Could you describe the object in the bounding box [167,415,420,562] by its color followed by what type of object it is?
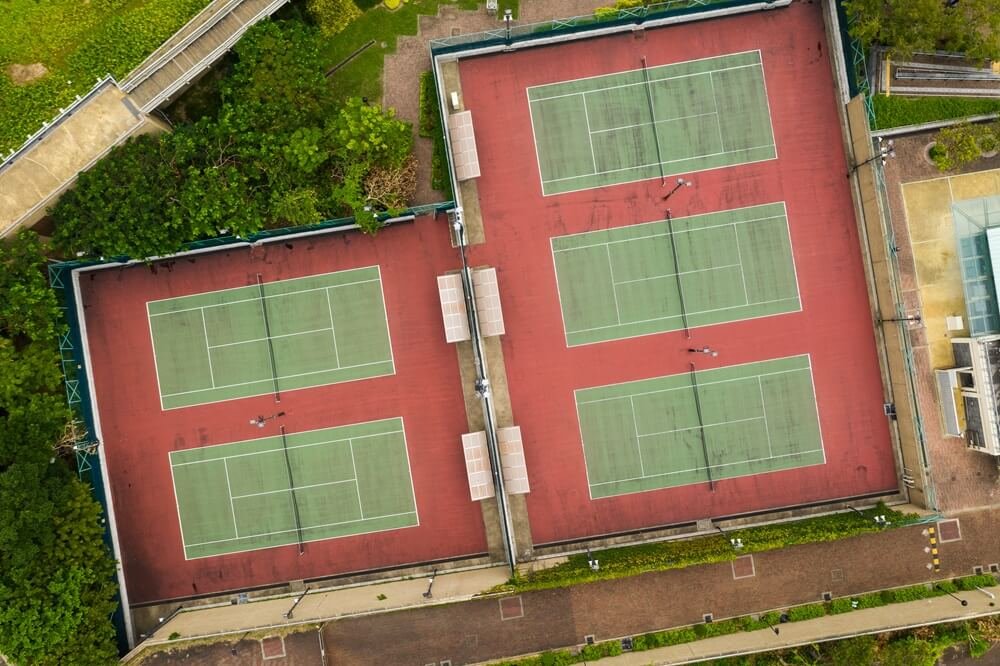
green tennis court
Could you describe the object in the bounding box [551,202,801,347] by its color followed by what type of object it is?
green tennis court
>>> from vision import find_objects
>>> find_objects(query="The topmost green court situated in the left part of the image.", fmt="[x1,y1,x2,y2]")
[146,266,397,411]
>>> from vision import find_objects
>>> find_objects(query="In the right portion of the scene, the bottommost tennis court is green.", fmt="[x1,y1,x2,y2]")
[575,354,825,500]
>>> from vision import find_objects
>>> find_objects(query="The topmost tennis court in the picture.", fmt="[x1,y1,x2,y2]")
[527,52,776,194]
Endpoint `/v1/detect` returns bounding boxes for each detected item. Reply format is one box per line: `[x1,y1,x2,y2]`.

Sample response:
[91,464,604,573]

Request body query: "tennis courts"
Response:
[146,266,397,411]
[551,202,801,347]
[527,52,776,194]
[575,354,825,500]
[167,415,420,562]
